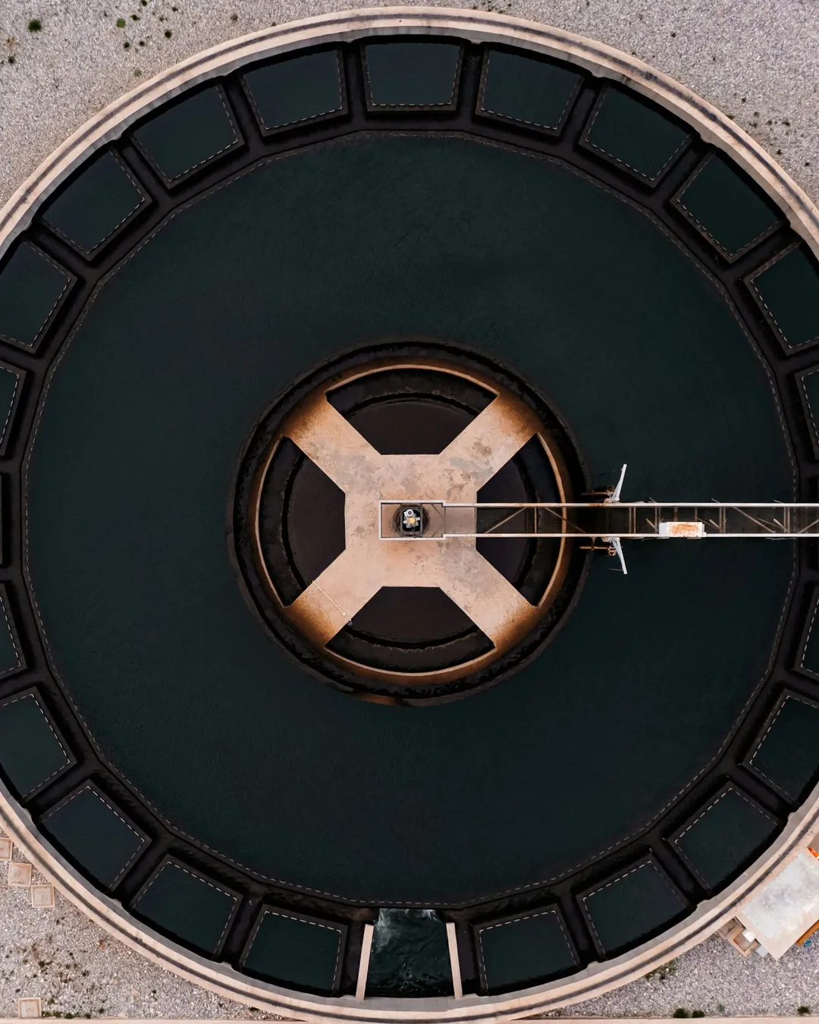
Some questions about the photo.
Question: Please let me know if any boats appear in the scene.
No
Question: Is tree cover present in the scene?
No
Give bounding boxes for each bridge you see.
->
[379,464,819,575]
